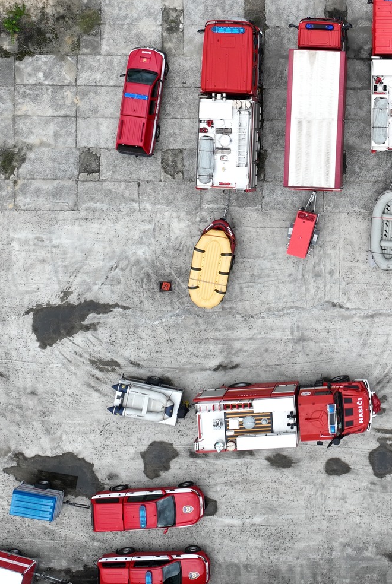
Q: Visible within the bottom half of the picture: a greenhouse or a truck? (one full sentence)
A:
There is a truck within the bottom half of the picture.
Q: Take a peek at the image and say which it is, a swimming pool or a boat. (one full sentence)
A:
Looking from above, you can make out a boat.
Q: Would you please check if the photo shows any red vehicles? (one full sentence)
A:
Yes, this view includes a red vehicle.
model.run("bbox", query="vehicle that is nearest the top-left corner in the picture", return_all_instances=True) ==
[116,45,173,161]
